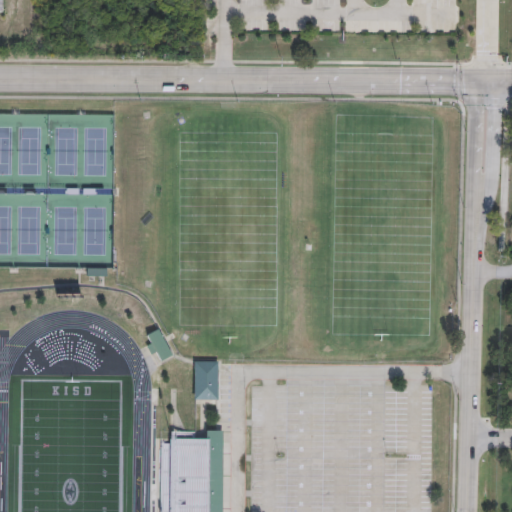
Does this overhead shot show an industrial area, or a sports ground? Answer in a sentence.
This looks like a sports ground.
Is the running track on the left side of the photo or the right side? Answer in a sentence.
You can find the running track on the left side of the picture.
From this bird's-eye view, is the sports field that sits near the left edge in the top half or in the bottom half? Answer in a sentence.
The sports field that sits near the left edge is in the bottom half of the image.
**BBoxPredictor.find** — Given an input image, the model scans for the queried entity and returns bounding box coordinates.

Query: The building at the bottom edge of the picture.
[160,432,224,512]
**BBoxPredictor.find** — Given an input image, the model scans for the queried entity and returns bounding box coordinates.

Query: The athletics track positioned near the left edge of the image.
[0,310,152,512]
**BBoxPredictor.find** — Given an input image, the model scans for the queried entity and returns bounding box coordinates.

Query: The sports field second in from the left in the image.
[177,131,280,328]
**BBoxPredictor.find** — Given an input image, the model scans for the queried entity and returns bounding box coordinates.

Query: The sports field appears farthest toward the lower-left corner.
[8,376,133,512]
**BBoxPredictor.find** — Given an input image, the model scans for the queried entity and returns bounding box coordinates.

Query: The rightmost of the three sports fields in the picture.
[330,112,434,338]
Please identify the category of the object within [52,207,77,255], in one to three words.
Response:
tennis court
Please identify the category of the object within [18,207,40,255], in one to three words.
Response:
tennis court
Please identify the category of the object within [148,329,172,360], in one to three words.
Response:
building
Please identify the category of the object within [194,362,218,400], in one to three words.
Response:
building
